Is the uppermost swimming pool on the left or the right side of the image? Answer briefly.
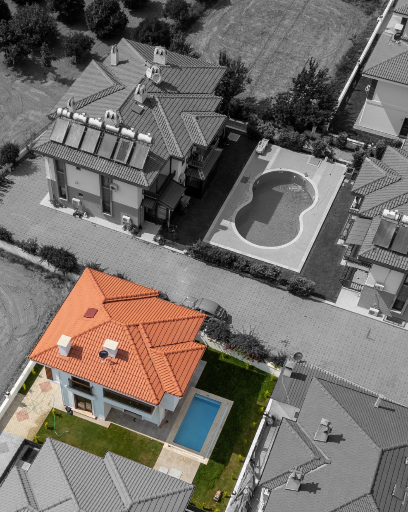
right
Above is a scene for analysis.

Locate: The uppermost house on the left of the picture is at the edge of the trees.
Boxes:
[33,38,236,242]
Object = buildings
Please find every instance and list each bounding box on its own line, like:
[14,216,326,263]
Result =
[28,265,208,429]
[333,133,408,330]
[0,436,196,512]
[346,23,408,141]
[256,375,408,512]
[33,38,236,242]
